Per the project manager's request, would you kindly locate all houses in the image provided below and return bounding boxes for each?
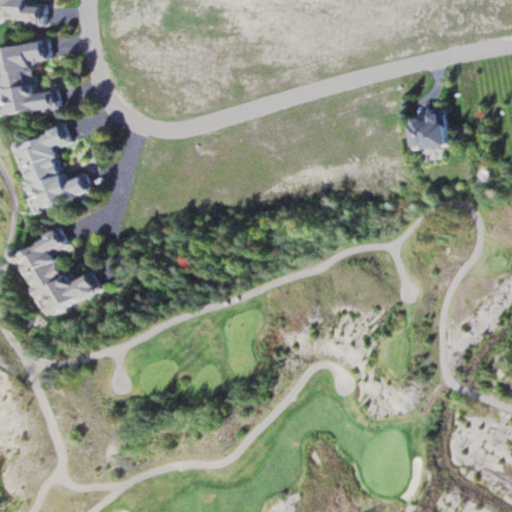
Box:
[6,226,104,328]
[11,120,94,216]
[0,36,64,115]
[0,0,51,28]
[404,104,446,161]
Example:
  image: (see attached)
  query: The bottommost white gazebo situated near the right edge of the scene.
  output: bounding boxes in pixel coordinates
[477,167,490,181]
